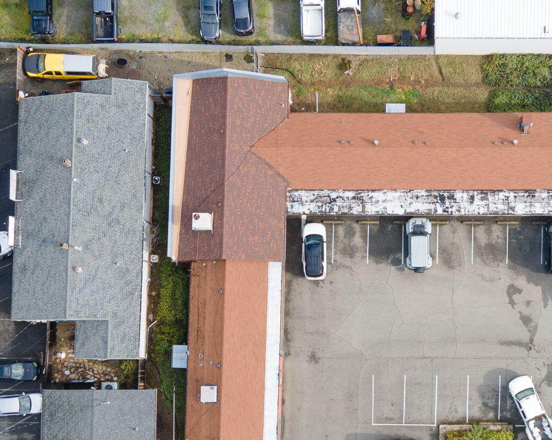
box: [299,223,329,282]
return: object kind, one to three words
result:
car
